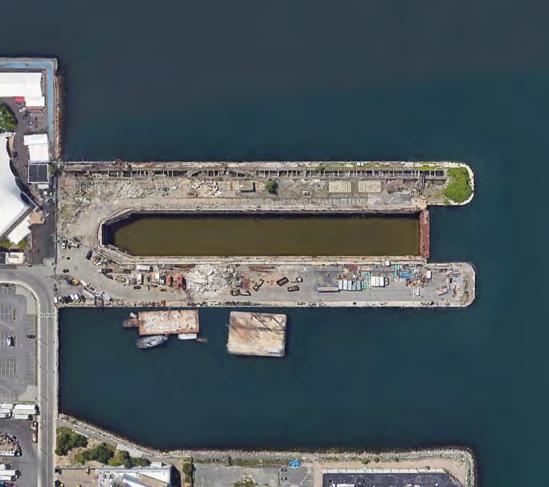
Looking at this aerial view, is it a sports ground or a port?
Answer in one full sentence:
This looks like a port.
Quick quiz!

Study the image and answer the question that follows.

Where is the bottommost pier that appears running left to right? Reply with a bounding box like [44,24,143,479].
[60,246,476,308]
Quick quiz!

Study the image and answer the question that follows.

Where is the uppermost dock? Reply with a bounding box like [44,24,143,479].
[58,161,473,220]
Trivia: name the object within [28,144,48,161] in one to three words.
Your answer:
shed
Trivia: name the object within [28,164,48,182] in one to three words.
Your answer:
building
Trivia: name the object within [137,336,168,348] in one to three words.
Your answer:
boat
